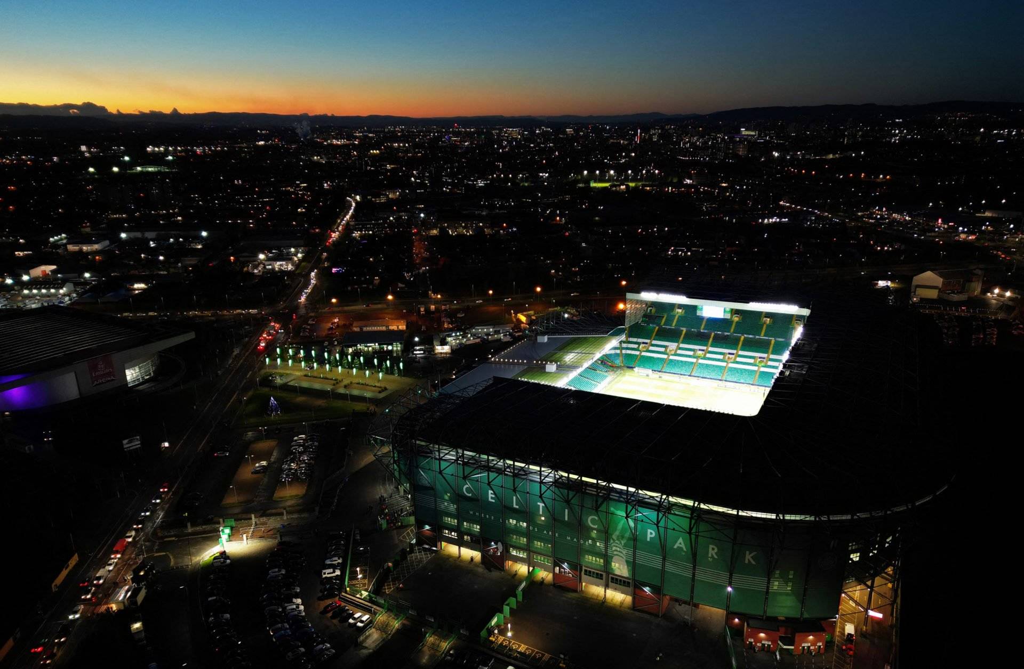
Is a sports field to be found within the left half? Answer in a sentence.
No, within the left half there is no sports field.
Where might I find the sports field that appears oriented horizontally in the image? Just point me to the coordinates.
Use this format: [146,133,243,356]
[600,371,770,417]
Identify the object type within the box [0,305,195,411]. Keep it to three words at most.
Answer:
stadium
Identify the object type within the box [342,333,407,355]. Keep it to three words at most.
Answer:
building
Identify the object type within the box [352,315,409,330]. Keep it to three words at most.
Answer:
building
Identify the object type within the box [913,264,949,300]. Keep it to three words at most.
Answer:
house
